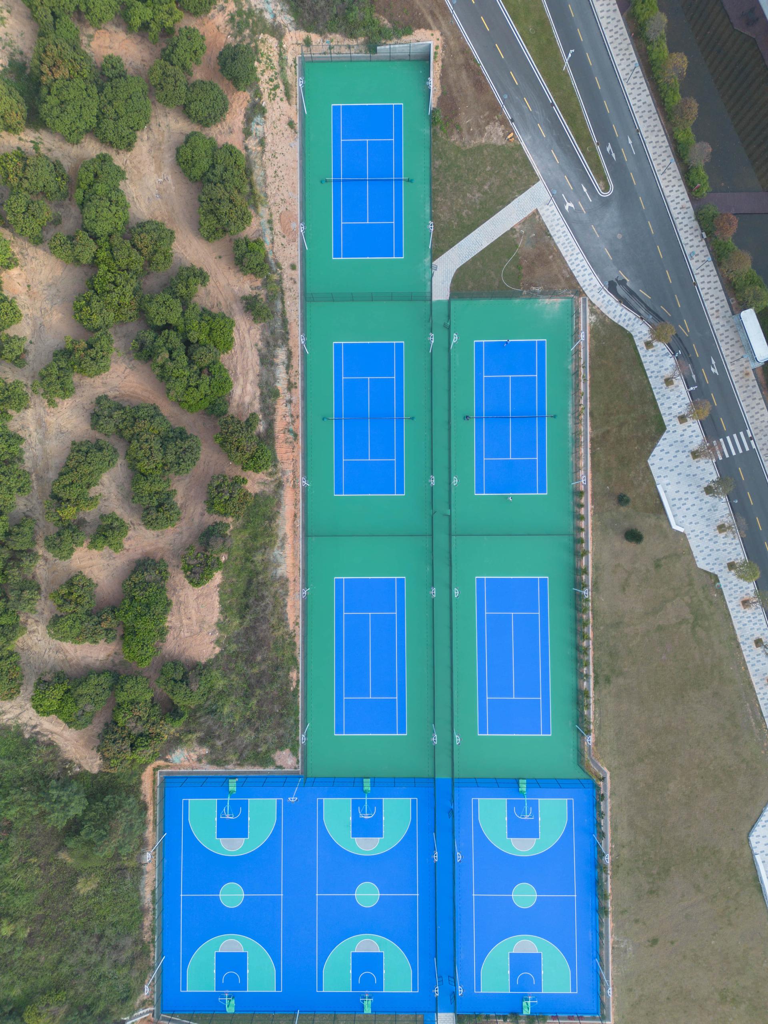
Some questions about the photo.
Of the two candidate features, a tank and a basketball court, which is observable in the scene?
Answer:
basketball court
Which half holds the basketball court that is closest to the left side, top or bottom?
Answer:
bottom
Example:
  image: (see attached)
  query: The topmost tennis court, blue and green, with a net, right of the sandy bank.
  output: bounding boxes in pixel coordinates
[306,61,432,301]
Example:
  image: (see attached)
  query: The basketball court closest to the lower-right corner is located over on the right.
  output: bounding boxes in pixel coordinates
[452,779,602,1016]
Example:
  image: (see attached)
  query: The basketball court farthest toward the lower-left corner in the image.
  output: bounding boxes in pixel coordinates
[161,776,300,1014]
